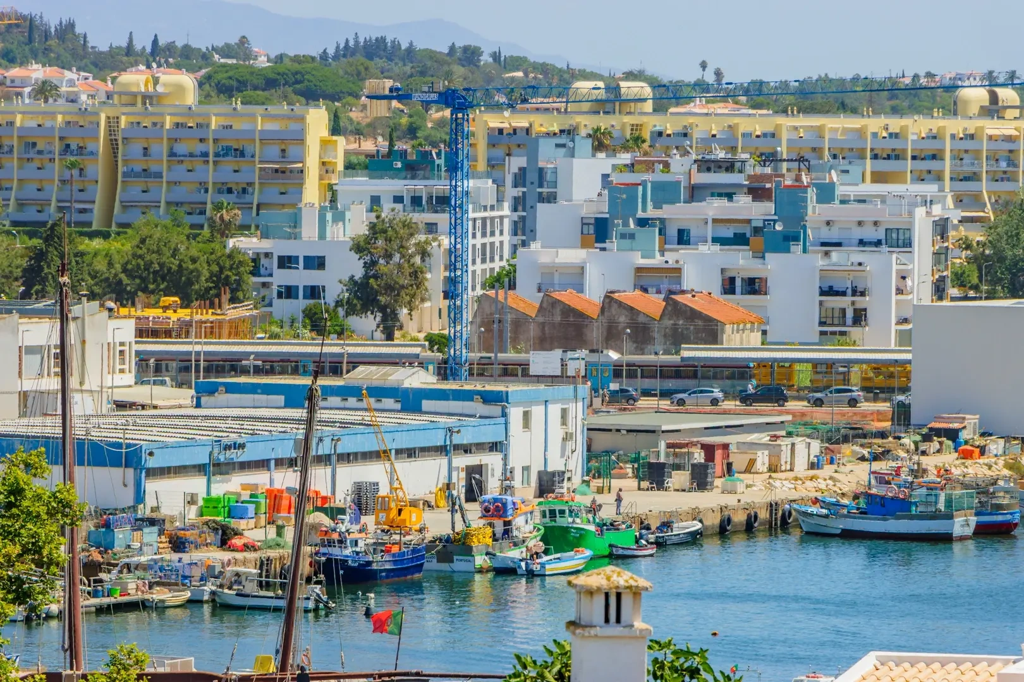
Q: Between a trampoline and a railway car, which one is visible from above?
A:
railway car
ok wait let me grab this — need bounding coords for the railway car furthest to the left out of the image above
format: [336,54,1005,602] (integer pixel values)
[134,345,297,385]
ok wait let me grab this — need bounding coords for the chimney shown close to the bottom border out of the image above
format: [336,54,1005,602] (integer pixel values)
[566,566,654,682]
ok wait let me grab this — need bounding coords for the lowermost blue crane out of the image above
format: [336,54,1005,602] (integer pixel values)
[363,71,1024,382]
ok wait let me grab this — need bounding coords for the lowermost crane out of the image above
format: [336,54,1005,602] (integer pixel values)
[360,387,434,534]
